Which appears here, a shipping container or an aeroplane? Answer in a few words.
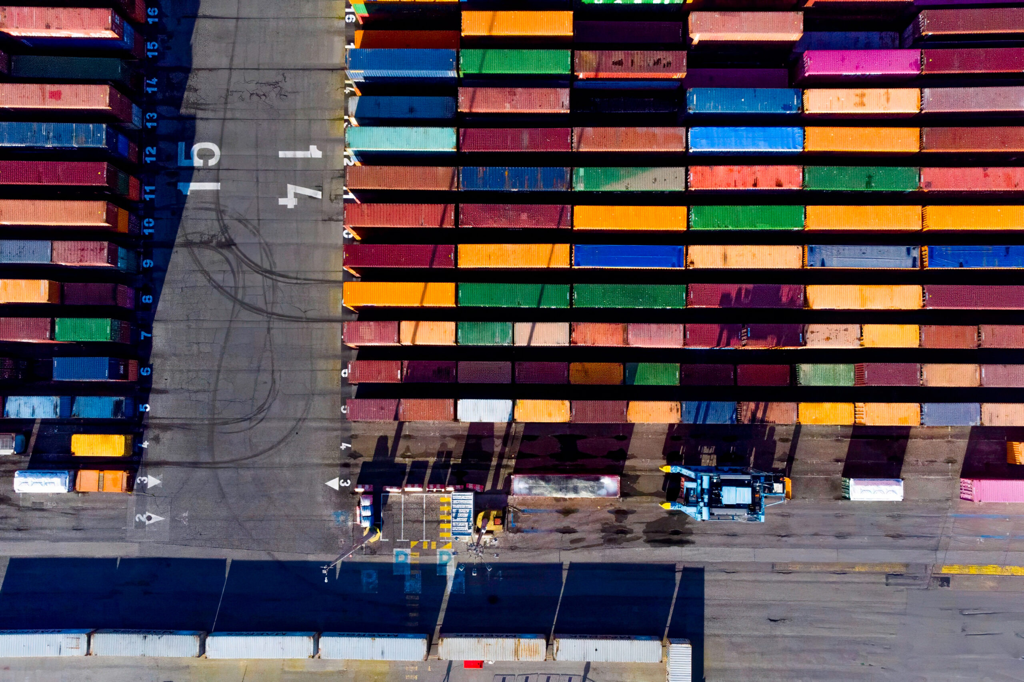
shipping container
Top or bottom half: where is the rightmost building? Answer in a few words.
bottom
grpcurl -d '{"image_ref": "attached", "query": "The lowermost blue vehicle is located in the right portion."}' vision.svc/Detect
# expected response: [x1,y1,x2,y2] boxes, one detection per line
[658,465,789,522]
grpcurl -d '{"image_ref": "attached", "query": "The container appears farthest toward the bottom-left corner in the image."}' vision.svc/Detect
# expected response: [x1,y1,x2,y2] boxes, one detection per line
[0,627,100,656]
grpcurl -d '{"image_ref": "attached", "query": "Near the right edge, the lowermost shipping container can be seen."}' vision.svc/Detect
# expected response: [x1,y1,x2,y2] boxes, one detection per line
[959,477,1024,502]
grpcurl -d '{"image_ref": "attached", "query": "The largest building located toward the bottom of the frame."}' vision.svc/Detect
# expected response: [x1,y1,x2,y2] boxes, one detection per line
[452,489,475,536]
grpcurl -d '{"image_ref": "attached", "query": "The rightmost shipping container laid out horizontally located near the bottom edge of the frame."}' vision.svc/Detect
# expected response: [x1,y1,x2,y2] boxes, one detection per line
[553,633,662,663]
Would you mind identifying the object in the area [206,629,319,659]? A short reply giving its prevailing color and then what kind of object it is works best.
white shipping container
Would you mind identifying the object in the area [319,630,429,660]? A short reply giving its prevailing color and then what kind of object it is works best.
white shipping container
